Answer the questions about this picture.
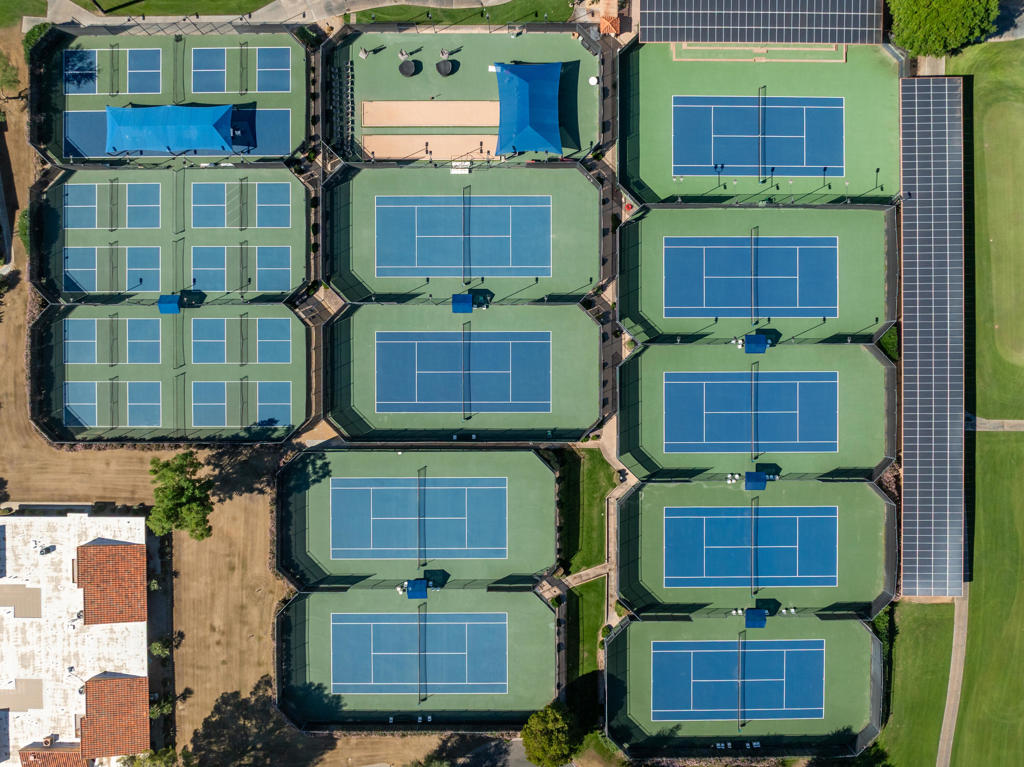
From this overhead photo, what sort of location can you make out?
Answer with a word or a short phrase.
sports ground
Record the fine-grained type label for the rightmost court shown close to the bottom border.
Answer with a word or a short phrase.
tennis court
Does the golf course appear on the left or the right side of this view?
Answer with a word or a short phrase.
right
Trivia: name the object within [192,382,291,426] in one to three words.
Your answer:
sports court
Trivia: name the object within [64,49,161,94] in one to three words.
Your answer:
sports court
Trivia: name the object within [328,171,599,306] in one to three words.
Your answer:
tennis court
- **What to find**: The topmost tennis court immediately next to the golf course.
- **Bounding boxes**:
[618,40,899,206]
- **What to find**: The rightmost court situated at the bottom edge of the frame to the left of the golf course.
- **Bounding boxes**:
[605,612,870,747]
